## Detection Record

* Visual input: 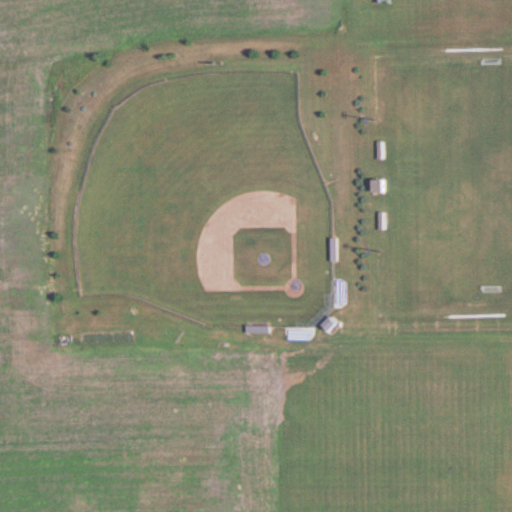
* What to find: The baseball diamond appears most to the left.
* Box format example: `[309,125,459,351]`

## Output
[76,72,334,327]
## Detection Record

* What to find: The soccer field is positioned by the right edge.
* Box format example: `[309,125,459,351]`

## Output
[386,63,512,314]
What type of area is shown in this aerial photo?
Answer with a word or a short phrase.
sports ground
